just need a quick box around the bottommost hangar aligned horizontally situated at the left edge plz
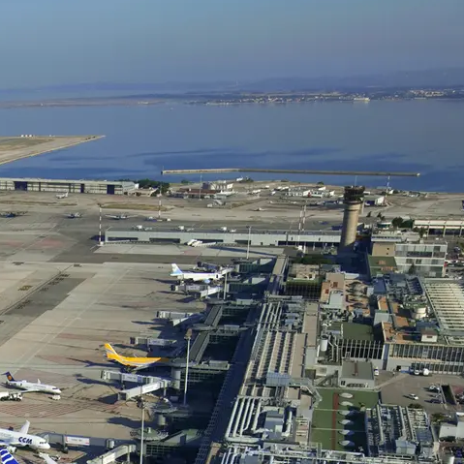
[0,178,140,199]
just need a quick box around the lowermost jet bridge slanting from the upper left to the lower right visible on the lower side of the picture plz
[125,336,175,369]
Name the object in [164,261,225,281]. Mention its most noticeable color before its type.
white airplane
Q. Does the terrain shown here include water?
Yes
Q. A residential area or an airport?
airport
